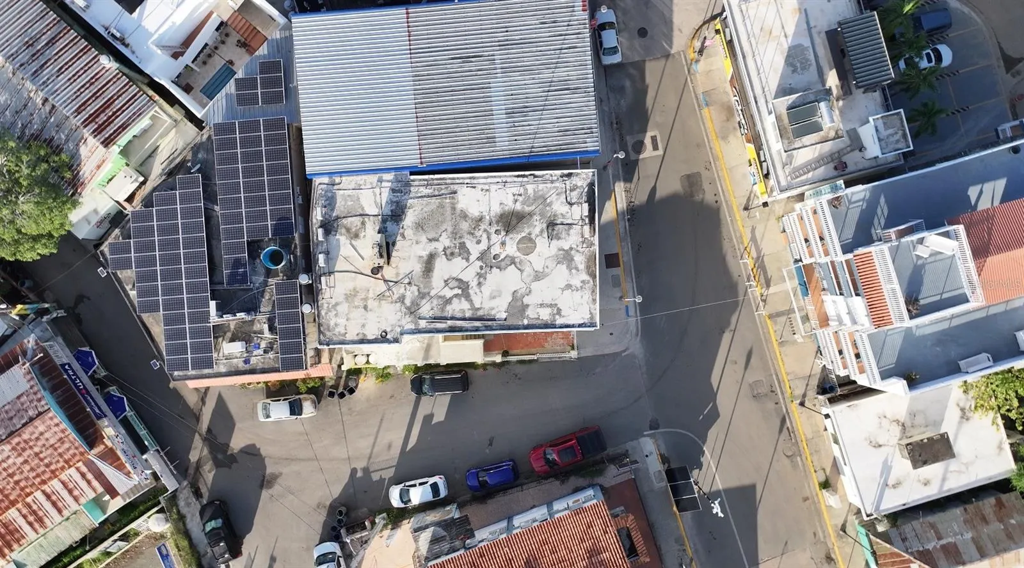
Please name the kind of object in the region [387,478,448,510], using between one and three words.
car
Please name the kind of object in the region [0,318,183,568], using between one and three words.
building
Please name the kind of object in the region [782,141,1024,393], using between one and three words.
house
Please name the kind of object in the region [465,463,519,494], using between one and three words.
car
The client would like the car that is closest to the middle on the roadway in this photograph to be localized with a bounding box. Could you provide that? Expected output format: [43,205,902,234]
[409,371,469,401]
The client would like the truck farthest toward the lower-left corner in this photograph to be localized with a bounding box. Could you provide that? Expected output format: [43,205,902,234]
[196,499,236,568]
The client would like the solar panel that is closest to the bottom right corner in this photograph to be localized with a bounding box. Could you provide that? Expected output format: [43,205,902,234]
[666,465,702,513]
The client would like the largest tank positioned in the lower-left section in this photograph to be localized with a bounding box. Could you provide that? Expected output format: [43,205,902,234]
[140,512,168,538]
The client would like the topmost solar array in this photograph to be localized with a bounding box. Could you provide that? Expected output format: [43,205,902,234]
[235,60,285,106]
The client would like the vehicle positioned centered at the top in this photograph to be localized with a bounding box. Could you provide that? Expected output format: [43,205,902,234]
[595,5,622,65]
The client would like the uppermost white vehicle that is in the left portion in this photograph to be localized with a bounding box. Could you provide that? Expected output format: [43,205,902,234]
[255,395,317,423]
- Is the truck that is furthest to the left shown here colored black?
Yes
